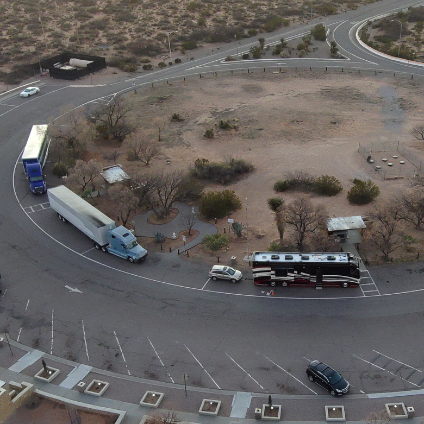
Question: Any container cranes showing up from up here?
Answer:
No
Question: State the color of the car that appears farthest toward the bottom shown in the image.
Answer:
black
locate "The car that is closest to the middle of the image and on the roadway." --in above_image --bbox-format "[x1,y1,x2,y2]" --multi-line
[207,262,244,281]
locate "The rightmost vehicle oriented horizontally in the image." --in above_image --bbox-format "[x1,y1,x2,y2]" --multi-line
[255,253,362,288]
